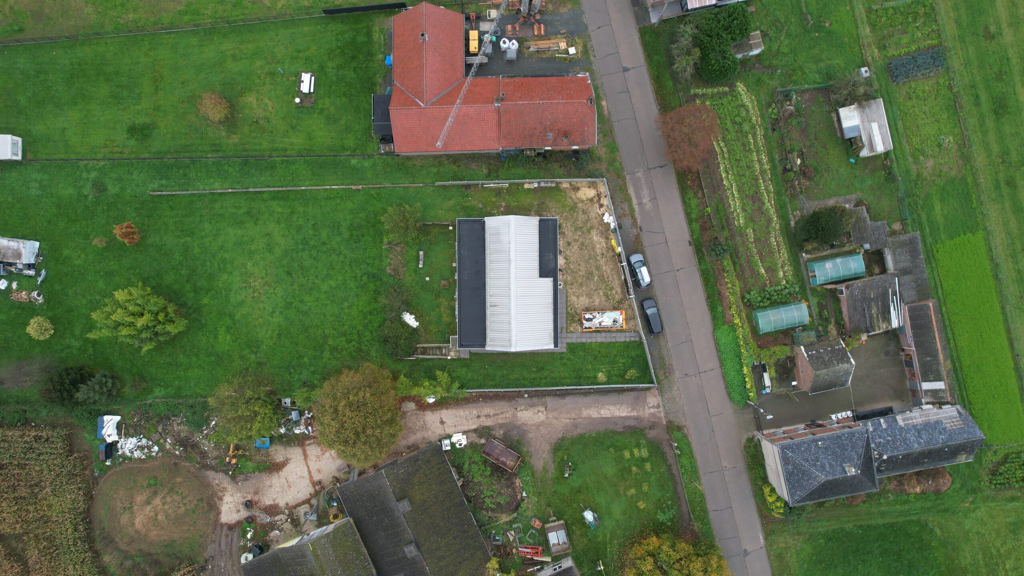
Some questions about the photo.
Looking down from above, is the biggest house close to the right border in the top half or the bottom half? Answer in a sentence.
The biggest house close to the right border is in the bottom half of the image.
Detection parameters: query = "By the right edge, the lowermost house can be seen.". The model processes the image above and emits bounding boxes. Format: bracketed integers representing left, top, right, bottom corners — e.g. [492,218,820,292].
[759,401,986,507]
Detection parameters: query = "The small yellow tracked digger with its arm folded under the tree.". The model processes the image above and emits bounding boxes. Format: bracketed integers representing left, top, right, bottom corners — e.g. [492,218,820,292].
[224,444,249,467]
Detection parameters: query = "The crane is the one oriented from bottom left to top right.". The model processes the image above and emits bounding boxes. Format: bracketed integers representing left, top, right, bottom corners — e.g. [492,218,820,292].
[436,0,542,147]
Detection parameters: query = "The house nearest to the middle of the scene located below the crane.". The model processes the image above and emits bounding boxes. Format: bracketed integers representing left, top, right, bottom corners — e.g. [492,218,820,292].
[457,215,558,352]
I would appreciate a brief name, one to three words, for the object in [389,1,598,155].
house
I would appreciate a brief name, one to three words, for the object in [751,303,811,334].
greenhouse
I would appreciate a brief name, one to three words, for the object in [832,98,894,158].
shed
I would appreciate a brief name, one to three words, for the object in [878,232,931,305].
shed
